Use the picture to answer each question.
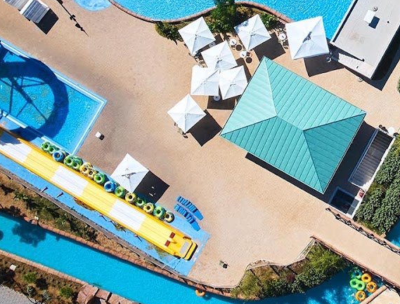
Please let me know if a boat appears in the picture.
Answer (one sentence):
No, this view has no boat in it.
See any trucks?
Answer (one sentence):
No, the scene contains no truck.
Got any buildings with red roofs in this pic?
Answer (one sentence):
No, there isn't any building with a red roof down there.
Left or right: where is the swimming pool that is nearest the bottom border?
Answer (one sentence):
It is on the left.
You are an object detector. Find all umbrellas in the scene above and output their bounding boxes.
[285,14,332,61]
[104,155,148,199]
[180,15,218,53]
[216,66,247,99]
[167,94,204,133]
[190,67,221,97]
[201,38,238,74]
[234,13,274,53]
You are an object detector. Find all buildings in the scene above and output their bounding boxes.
[329,0,400,79]
[221,57,366,194]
